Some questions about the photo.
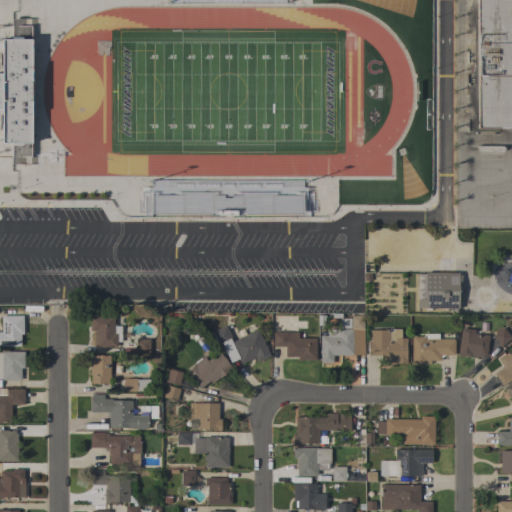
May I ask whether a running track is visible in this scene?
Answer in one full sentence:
Yes, I can see a running track in this picture.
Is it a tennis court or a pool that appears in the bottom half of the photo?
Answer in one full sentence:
The one visible in the bottom half of the photo is a pool.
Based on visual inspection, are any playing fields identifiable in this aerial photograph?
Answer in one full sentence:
Yes, a playing field is visible in the scene.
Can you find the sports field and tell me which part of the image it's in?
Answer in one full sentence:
The sports field is in the top part of the image.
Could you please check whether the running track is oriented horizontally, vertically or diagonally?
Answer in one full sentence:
The running track runs horizontally in the image.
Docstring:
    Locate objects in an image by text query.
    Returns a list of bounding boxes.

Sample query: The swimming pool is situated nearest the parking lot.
[122,319,158,347]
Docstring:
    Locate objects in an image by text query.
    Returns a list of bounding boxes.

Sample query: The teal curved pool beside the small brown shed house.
[182,485,207,505]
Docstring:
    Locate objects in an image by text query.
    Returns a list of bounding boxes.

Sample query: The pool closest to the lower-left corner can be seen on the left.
[142,453,162,468]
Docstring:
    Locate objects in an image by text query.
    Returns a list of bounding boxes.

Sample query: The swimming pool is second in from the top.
[126,362,153,378]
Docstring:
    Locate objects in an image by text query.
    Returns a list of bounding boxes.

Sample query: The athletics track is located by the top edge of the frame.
[42,6,418,178]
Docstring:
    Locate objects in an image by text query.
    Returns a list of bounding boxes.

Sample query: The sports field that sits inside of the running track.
[112,29,346,154]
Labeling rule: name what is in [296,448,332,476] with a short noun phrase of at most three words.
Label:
house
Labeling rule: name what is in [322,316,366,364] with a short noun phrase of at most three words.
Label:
house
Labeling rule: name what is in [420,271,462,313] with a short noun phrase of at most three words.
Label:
building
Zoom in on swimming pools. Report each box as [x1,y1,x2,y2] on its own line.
[126,362,153,378]
[122,319,158,347]
[182,485,207,505]
[142,453,162,468]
